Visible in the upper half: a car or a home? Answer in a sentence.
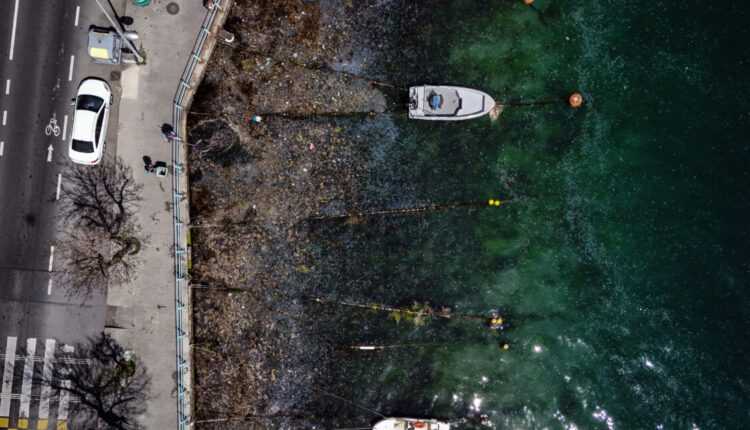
What appears in the upper half is a car.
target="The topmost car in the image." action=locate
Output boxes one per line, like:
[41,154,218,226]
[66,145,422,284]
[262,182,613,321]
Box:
[66,75,116,166]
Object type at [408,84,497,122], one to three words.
boat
